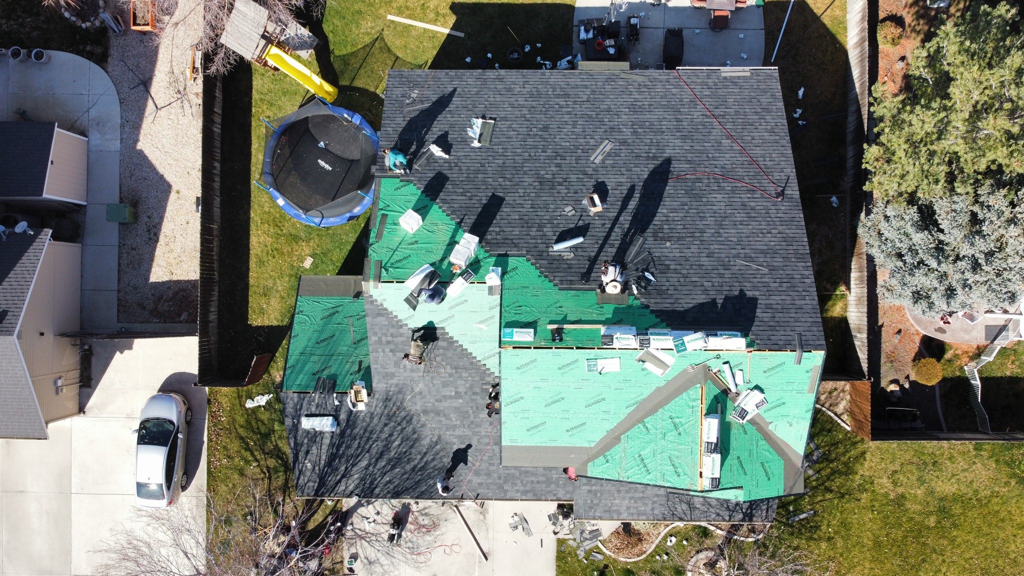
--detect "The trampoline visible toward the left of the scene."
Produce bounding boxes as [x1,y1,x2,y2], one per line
[247,94,376,228]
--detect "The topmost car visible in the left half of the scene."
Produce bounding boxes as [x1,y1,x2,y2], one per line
[129,392,190,508]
